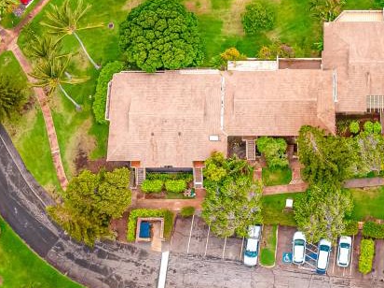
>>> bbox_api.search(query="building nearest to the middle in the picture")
[106,68,228,191]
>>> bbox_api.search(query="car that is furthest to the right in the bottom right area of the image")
[337,234,351,267]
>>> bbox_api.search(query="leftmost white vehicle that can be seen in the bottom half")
[243,226,260,266]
